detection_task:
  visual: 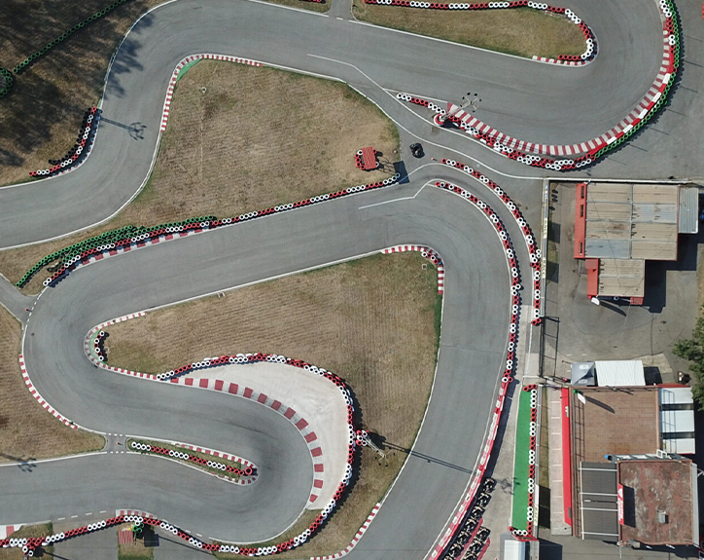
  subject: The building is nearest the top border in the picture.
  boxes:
[575,183,700,304]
